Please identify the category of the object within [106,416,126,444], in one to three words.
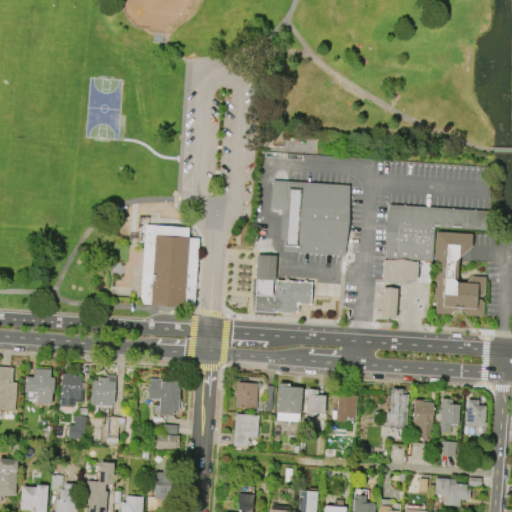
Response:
building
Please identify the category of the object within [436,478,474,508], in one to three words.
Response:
house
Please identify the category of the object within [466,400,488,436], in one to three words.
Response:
house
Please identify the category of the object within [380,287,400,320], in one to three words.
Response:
building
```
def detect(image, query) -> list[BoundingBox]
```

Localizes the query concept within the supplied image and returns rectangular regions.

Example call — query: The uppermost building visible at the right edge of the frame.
[386,205,490,260]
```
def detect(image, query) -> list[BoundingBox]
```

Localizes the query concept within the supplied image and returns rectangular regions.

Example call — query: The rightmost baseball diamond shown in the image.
[124,0,201,43]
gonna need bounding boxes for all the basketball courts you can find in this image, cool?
[86,76,126,142]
